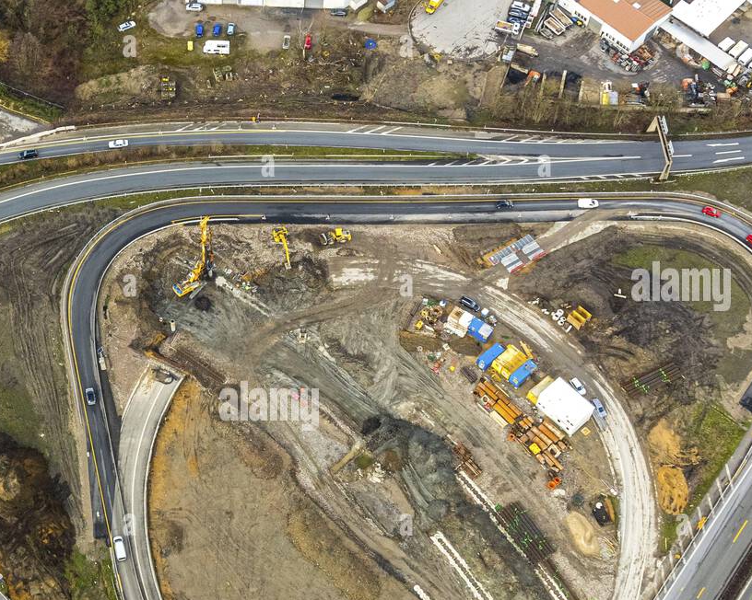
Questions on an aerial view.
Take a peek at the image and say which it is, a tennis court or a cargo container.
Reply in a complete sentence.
Looking from above, you can make out a cargo container.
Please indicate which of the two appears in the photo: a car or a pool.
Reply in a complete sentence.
Of the two, only a car appears.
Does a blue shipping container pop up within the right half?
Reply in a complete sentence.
Yes, a blue shipping container appears within the right half.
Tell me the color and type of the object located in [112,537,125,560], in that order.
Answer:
white vehicle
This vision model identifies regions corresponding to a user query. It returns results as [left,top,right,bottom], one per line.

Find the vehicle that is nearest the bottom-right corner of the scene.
[591,399,606,419]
